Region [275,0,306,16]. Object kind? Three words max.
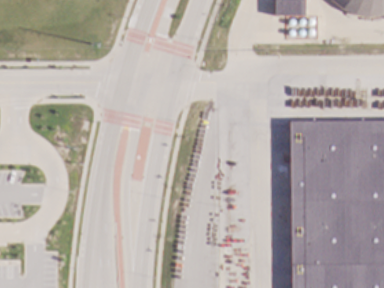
shed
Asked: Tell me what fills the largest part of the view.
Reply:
paved ground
